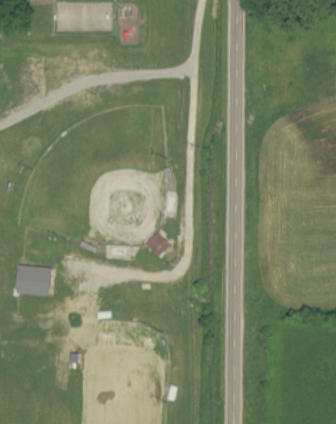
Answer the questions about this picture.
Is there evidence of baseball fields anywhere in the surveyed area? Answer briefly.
Yes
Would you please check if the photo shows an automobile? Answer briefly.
No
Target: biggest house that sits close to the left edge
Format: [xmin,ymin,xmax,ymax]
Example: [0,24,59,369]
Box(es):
[16,266,52,297]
